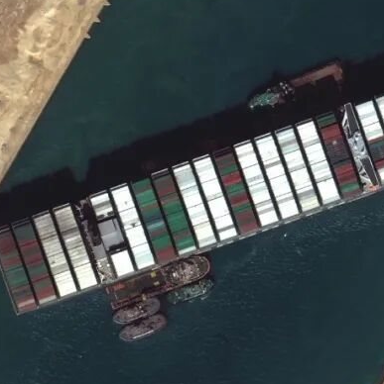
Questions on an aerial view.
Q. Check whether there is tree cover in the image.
No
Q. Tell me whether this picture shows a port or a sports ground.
port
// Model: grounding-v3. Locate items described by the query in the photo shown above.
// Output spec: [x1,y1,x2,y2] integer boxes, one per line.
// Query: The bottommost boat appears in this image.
[118,316,166,342]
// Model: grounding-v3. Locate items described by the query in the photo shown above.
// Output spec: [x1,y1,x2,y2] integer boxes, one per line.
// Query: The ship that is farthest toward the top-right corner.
[290,63,341,87]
